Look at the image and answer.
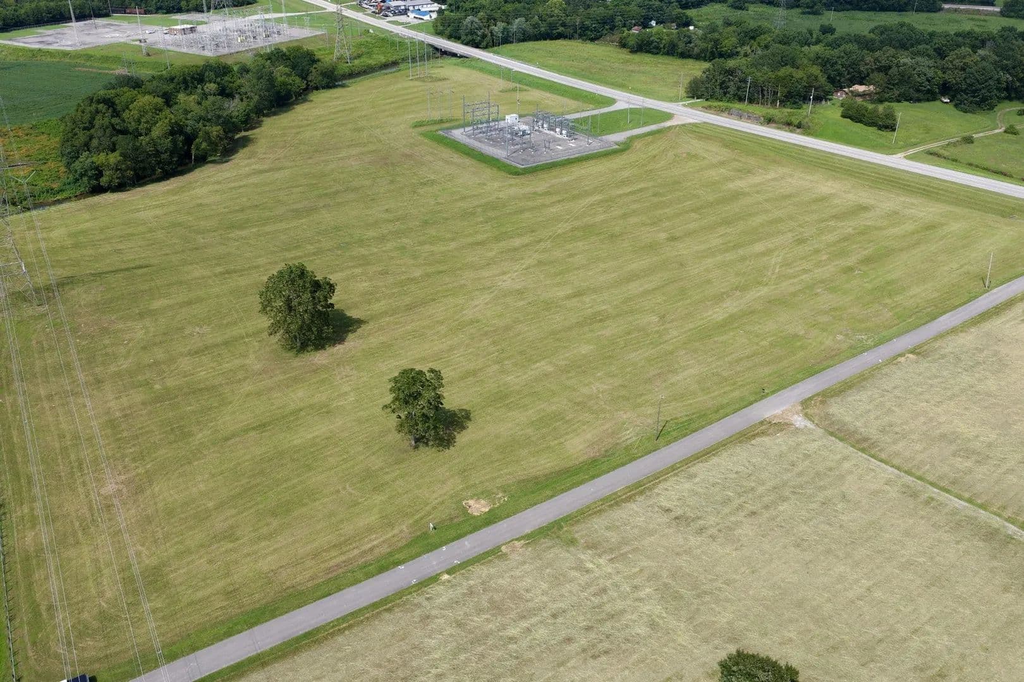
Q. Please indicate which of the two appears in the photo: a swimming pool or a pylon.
pylon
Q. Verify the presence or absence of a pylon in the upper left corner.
Yes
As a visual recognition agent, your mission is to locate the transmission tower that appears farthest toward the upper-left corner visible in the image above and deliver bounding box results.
[62,0,82,44]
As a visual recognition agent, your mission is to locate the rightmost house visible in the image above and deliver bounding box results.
[835,82,871,97]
